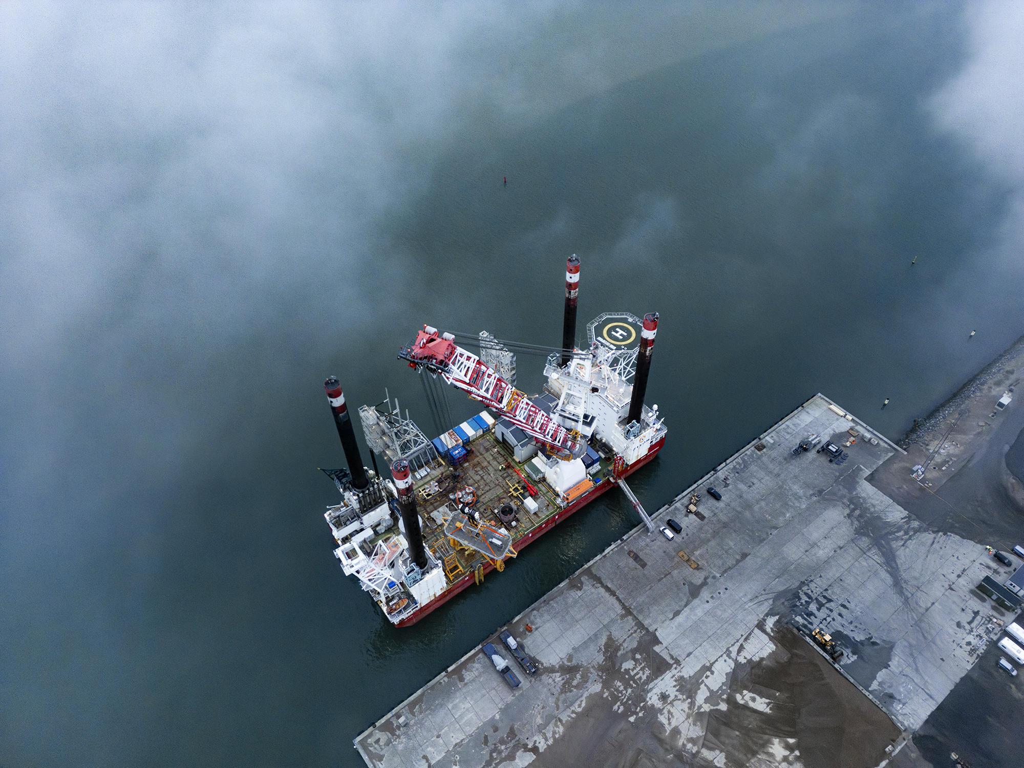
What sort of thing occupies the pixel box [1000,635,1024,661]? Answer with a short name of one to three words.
camper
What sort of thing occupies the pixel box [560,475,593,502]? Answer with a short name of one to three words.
boat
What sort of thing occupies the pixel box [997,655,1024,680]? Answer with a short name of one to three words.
vehicle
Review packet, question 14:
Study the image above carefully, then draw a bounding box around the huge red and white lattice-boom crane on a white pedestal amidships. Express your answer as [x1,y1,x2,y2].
[398,317,607,519]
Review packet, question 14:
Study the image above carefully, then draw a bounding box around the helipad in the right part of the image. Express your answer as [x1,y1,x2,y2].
[587,311,645,379]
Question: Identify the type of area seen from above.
port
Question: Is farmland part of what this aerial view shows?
No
